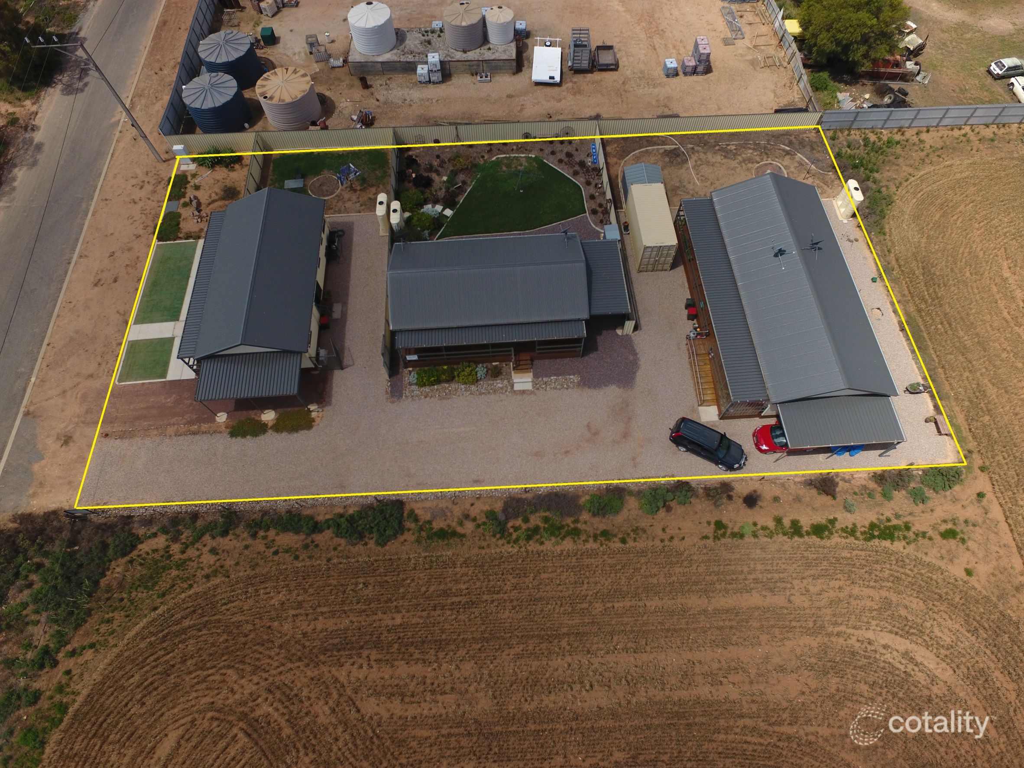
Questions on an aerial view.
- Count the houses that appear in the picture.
3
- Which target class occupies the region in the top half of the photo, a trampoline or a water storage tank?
water storage tank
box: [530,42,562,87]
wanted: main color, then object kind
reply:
white trailer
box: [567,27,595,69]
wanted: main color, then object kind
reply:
gray trailer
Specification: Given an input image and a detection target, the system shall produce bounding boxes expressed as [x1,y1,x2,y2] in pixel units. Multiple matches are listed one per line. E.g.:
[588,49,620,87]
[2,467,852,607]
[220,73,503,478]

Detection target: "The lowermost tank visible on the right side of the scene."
[830,178,863,221]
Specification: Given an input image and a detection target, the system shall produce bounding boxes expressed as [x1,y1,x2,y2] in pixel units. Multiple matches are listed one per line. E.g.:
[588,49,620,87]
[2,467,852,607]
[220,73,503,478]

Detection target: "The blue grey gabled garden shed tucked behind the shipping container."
[620,162,667,208]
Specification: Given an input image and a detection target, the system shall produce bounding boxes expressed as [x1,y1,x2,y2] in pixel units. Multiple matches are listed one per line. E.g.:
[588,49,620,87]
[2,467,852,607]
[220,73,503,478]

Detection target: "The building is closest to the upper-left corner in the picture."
[174,188,331,417]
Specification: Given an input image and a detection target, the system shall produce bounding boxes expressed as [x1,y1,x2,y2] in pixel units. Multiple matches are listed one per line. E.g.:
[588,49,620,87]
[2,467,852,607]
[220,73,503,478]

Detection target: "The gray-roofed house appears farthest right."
[673,172,909,463]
